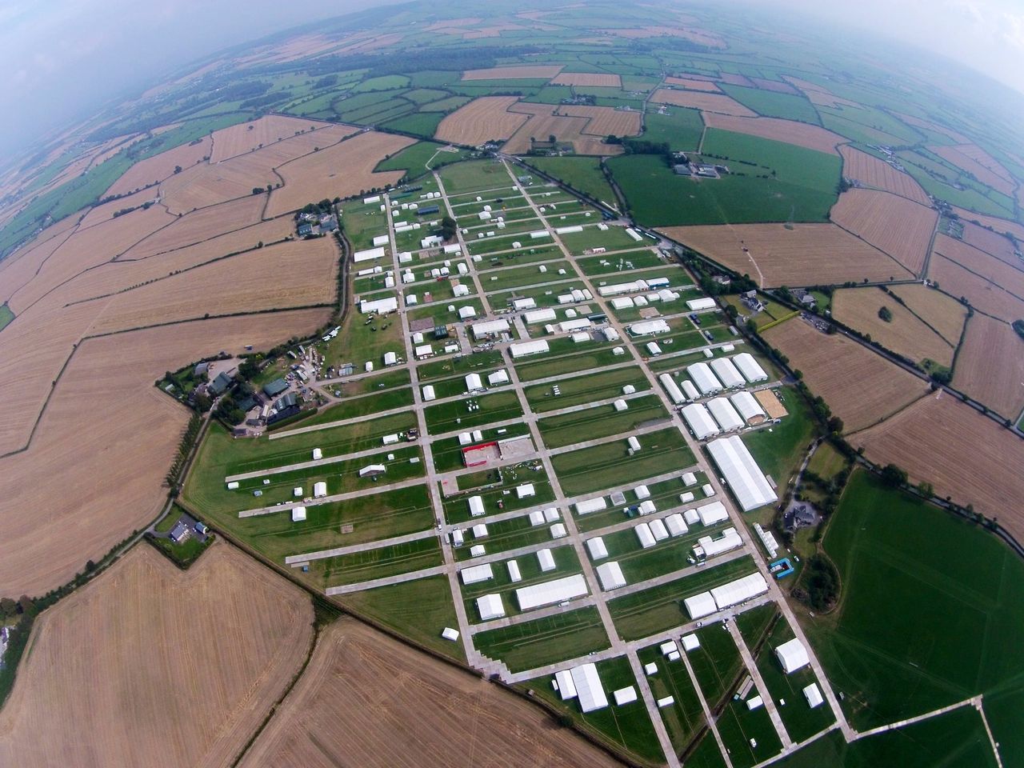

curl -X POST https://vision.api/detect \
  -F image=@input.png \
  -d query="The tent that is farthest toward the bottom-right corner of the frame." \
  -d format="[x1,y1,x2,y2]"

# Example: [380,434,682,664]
[804,681,826,708]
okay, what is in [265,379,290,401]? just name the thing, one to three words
barn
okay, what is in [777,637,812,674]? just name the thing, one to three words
tent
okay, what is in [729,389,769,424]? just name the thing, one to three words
tent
